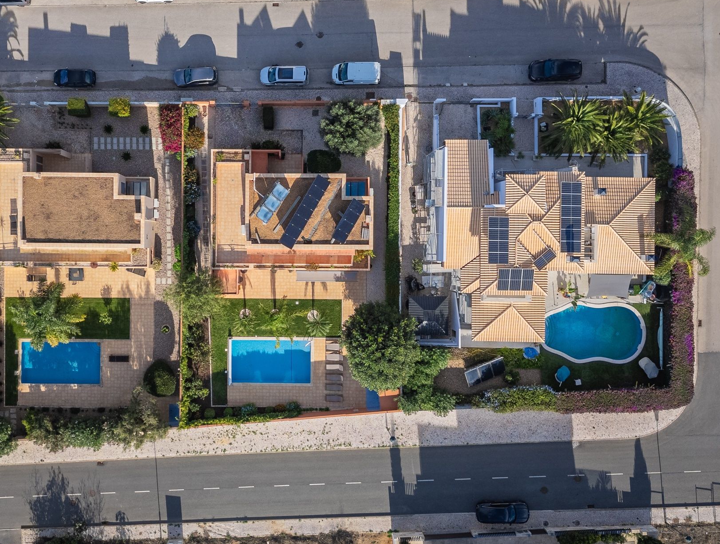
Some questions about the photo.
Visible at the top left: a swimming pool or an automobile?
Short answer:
automobile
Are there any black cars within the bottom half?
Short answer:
Yes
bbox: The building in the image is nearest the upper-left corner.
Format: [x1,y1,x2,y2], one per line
[0,148,156,268]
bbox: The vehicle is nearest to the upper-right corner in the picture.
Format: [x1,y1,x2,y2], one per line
[530,59,580,82]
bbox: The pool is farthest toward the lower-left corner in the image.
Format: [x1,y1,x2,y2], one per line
[18,339,104,388]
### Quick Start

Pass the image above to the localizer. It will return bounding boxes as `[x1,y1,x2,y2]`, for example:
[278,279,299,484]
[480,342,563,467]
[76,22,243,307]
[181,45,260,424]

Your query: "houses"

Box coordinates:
[0,148,156,268]
[437,140,657,348]
[210,149,374,294]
